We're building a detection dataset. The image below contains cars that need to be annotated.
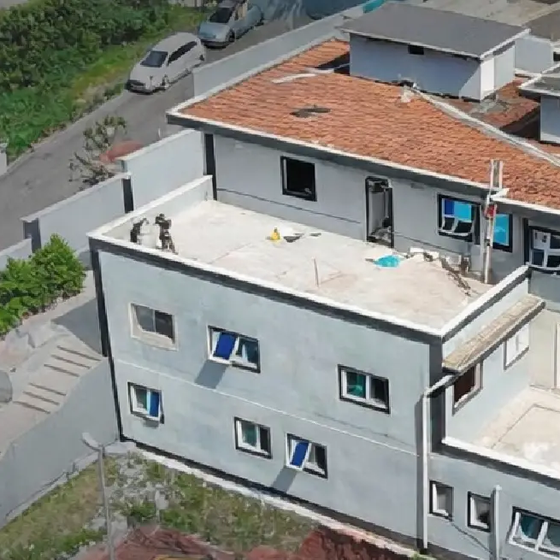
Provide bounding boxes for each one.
[191,0,270,51]
[119,30,207,98]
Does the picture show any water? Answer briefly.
No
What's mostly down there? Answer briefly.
buildings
